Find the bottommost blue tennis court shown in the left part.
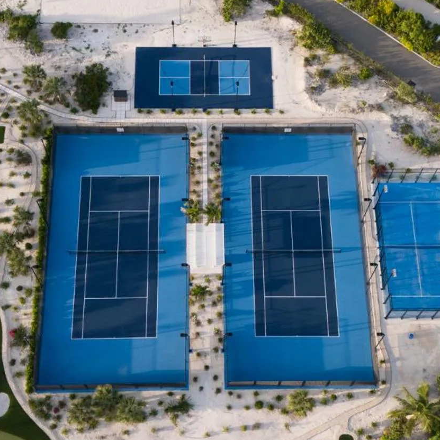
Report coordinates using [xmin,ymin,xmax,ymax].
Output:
[36,134,189,392]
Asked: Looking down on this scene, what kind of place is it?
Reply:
sports ground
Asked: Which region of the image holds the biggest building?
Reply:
center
